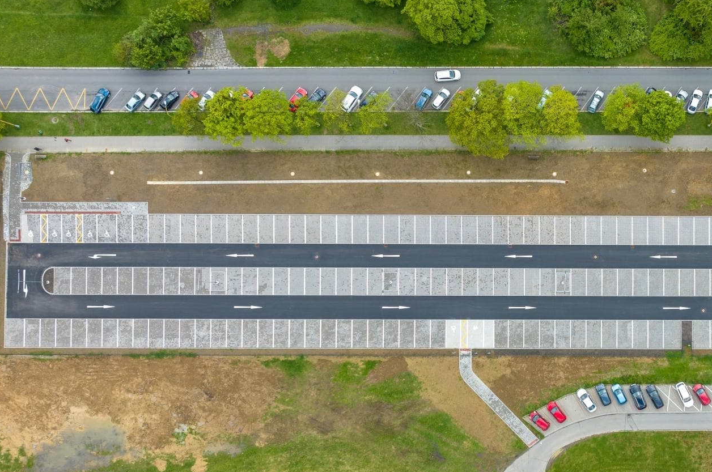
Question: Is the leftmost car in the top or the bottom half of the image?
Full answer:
It is in the top half that the leftmost car appears.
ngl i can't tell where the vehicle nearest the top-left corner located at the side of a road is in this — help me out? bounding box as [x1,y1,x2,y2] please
[88,86,112,115]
